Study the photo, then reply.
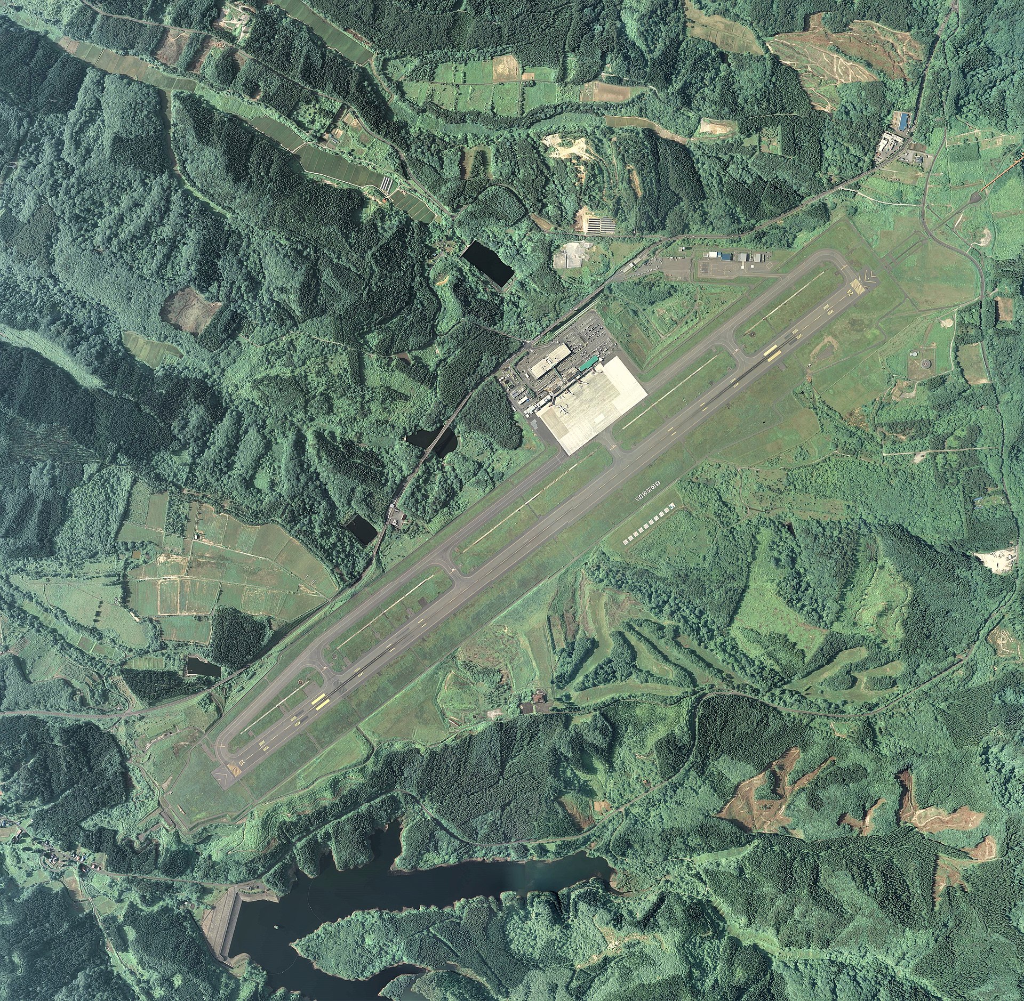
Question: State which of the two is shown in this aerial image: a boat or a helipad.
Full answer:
The image shows a helipad.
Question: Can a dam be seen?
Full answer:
Yes, you can see a dam in this photo.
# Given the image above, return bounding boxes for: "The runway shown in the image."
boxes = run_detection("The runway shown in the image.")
[212,265,881,790]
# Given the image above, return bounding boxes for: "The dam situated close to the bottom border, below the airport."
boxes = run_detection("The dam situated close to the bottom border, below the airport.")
[206,885,281,966]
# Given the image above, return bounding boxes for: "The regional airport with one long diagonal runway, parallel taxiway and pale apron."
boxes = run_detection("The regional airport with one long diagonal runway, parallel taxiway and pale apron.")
[197,248,881,806]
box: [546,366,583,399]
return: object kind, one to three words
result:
building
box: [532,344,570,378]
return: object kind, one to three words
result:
building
